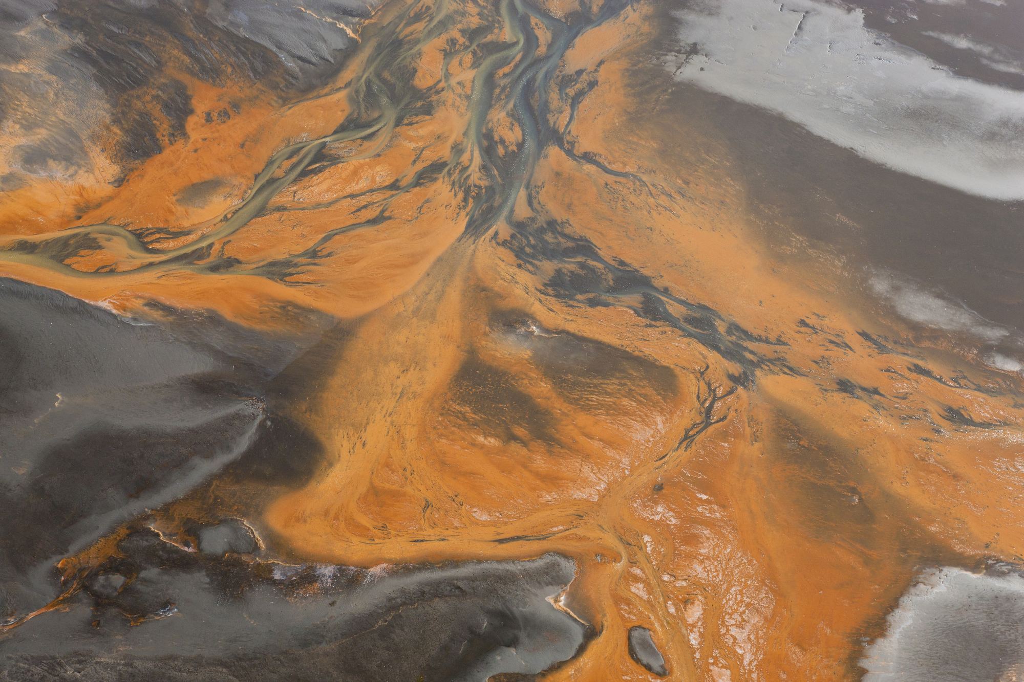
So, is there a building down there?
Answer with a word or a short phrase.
No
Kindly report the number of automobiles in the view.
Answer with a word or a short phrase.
zero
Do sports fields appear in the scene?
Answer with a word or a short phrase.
No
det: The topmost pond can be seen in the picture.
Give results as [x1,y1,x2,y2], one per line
[198,518,262,555]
